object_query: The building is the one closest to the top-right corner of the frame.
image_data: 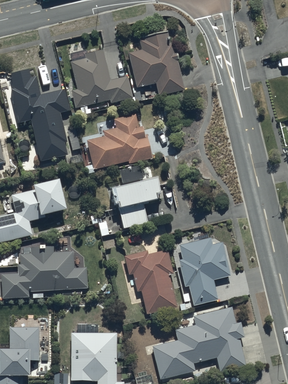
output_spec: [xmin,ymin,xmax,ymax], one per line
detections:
[129,31,183,94]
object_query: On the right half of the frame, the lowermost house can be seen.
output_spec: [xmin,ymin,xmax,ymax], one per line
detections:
[153,307,247,381]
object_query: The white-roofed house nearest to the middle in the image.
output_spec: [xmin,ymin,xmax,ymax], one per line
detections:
[110,176,162,229]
